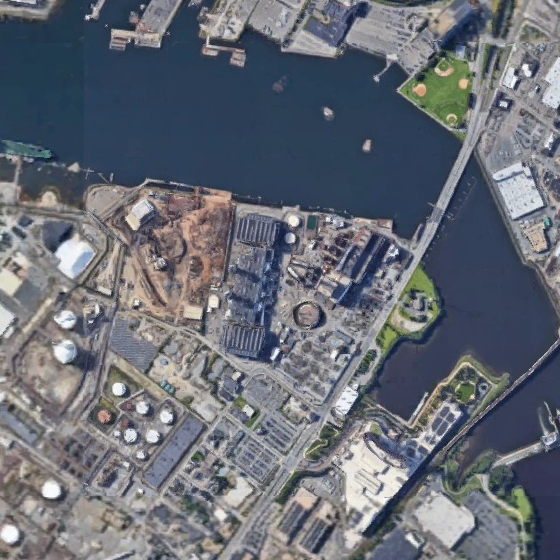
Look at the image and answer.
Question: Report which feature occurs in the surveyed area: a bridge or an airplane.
bridge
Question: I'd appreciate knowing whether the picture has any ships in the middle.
No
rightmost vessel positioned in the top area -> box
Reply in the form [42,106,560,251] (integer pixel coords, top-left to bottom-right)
[229,50,245,67]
